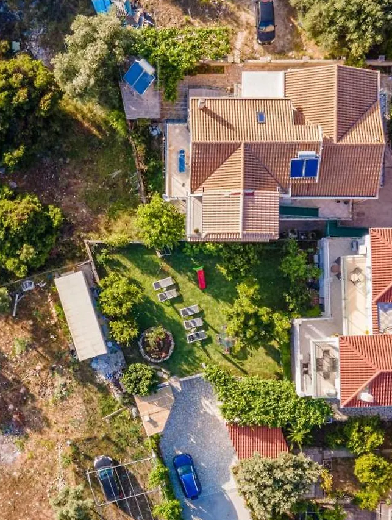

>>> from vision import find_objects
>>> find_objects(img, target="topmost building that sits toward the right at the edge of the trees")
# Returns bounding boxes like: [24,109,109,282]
[165,64,392,243]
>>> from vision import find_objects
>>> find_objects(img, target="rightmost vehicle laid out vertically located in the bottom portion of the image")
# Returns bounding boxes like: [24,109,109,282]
[171,451,201,502]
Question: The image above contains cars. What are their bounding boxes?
[95,454,123,506]
[171,451,201,502]
[255,0,279,49]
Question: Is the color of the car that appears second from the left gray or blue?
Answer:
blue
